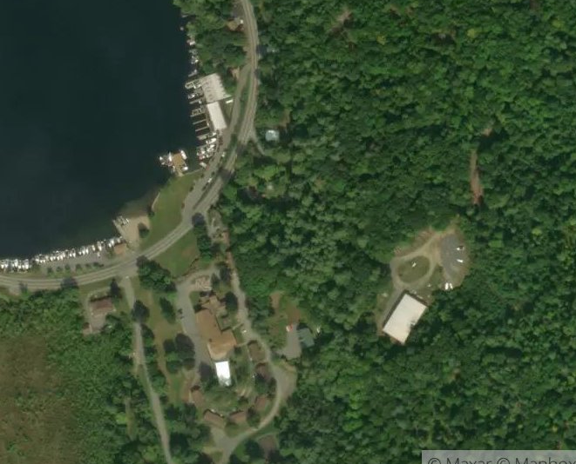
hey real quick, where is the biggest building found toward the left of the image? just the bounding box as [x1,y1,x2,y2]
[195,297,239,358]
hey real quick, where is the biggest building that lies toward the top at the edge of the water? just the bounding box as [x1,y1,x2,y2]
[200,74,231,103]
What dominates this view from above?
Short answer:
trees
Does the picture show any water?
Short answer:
Yes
